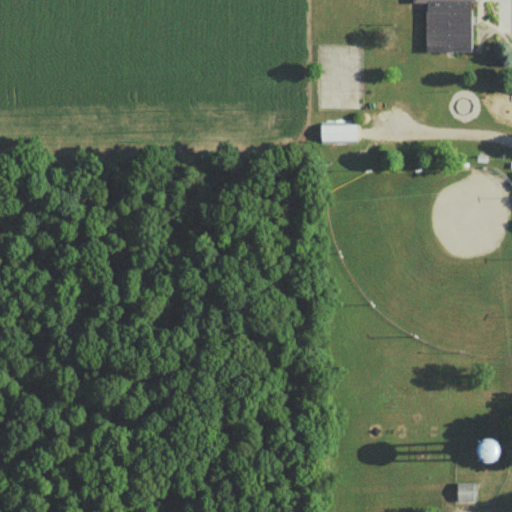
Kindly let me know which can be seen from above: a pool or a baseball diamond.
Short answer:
baseball diamond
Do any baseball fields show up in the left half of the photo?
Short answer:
No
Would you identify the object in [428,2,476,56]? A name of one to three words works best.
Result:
building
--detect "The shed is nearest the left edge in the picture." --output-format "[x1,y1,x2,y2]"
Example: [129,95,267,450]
[322,122,360,141]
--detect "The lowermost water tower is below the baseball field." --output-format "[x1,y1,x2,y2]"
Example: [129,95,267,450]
[474,439,500,465]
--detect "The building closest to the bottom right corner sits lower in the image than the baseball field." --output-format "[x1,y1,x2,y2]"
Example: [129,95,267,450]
[458,484,478,503]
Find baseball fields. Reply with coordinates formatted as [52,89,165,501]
[329,170,510,358]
